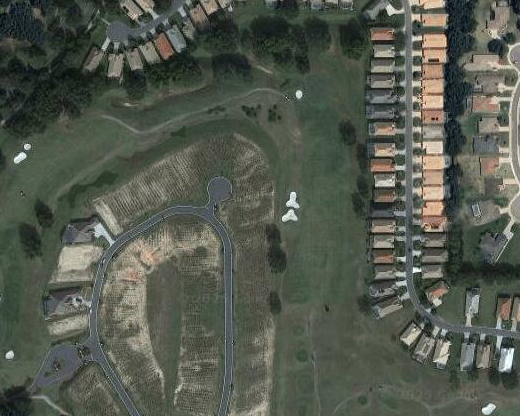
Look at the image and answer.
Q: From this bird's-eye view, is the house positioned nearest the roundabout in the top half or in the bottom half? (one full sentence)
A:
The house positioned nearest the roundabout is in the bottom half of the image.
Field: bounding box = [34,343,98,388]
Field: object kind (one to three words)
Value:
roundabout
